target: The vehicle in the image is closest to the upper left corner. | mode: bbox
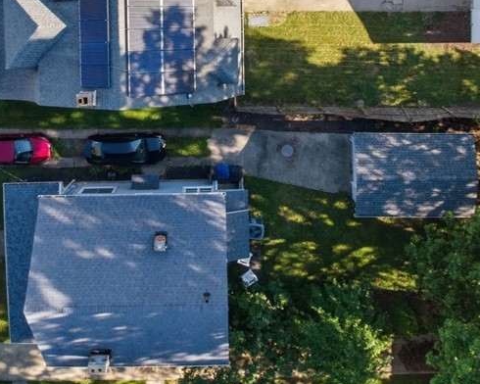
[0,131,54,169]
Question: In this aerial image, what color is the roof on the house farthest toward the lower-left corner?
blue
